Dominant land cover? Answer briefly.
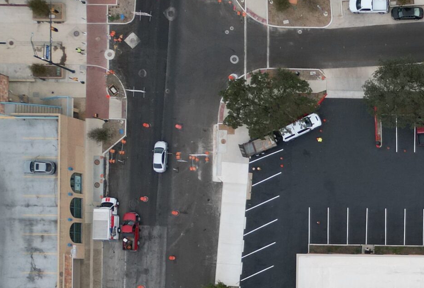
paved ground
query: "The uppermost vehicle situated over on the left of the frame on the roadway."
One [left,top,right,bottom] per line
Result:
[150,141,169,173]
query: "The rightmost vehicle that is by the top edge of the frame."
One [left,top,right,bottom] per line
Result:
[391,5,424,22]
